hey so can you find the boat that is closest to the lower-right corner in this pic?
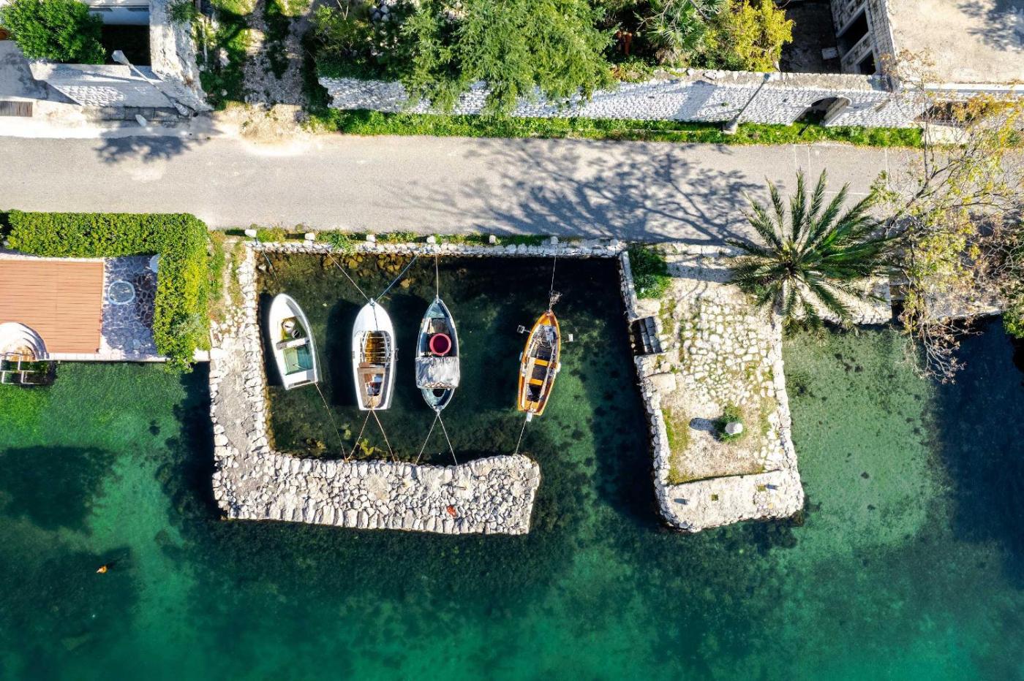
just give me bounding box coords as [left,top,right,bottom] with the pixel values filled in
[515,311,573,422]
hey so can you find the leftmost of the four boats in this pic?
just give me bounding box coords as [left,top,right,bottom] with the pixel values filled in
[271,294,319,389]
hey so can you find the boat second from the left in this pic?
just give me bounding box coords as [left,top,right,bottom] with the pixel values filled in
[352,300,399,410]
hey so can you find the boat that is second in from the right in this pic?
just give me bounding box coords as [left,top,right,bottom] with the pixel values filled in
[416,298,460,410]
